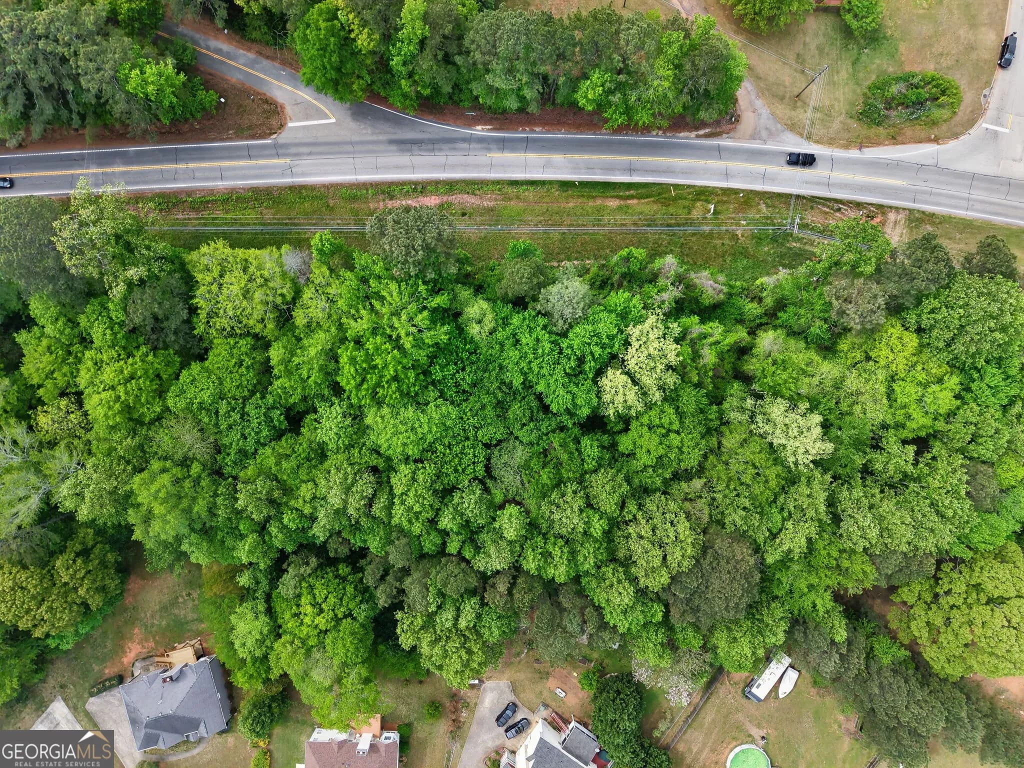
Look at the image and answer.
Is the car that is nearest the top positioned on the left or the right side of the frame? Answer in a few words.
right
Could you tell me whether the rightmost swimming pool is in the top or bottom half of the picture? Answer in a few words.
bottom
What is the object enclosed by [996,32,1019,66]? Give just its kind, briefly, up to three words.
car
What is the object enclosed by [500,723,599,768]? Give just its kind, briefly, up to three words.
house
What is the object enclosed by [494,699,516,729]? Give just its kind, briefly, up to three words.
car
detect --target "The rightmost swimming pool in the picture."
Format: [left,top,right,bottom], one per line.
[727,744,771,768]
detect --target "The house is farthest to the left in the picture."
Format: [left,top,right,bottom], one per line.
[119,656,231,751]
